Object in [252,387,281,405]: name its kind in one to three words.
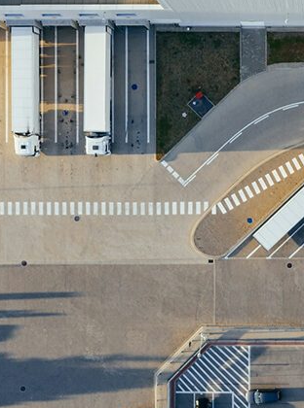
car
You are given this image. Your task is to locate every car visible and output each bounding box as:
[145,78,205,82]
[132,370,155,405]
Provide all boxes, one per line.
[196,396,214,408]
[252,387,281,405]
